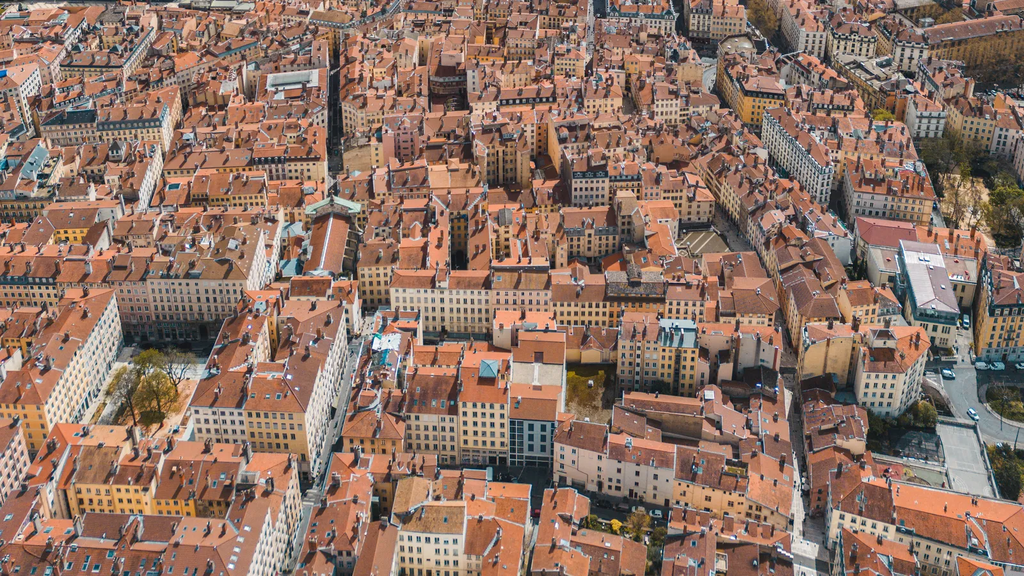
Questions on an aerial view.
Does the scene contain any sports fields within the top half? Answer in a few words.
No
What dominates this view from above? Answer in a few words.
buildings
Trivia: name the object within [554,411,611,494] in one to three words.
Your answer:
house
